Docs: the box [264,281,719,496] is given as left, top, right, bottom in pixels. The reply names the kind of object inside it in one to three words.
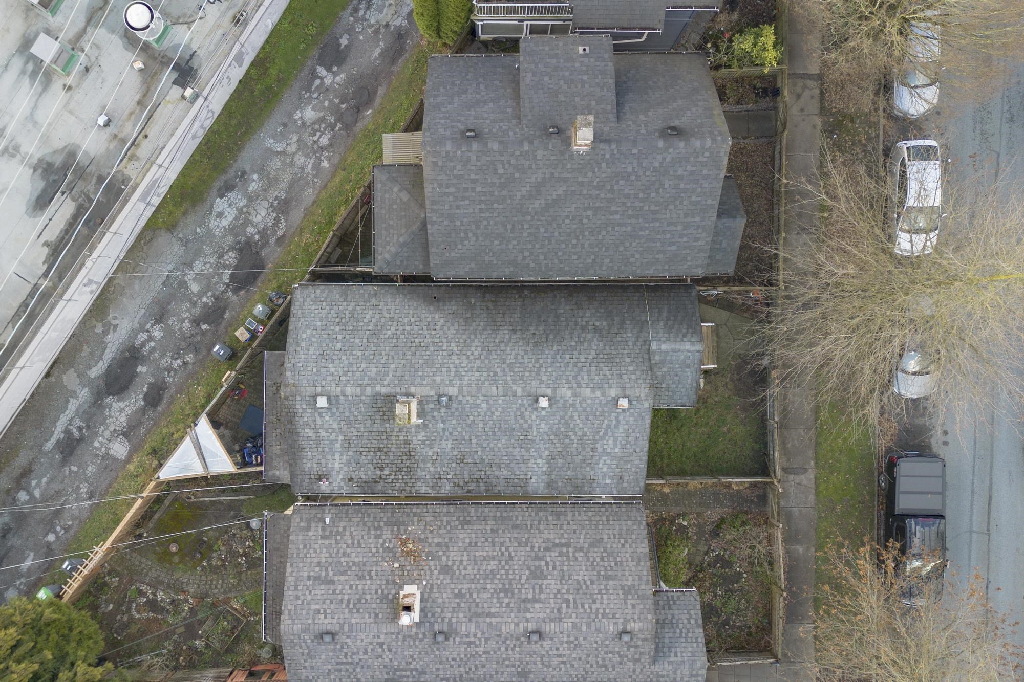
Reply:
house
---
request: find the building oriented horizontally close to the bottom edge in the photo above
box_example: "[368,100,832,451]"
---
[263,496,707,682]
